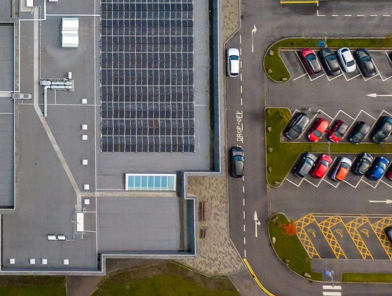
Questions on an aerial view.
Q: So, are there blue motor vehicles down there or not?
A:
Yes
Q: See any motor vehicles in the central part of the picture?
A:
Yes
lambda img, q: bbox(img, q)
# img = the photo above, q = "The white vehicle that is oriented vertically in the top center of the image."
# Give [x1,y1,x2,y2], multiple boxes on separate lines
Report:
[226,48,239,77]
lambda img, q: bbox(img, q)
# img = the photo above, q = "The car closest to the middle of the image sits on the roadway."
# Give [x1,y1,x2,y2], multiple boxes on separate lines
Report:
[229,146,246,178]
